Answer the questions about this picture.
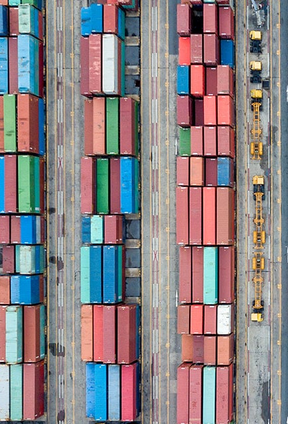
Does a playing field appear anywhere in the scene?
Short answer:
No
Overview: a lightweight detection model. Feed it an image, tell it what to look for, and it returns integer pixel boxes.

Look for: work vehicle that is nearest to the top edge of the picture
[249,28,263,52]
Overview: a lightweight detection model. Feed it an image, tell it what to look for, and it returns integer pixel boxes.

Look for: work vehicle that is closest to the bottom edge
[251,303,264,323]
